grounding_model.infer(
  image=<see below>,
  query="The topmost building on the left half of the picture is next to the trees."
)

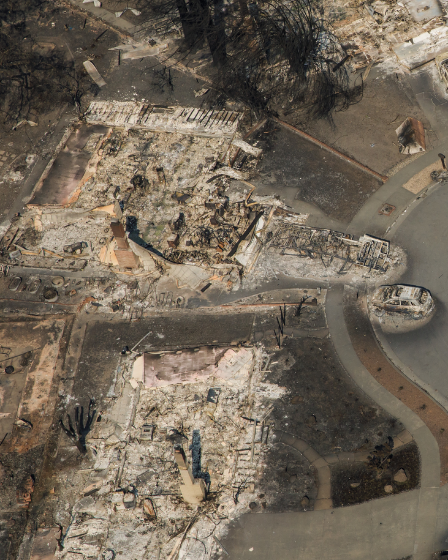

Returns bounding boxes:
[0,94,293,297]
